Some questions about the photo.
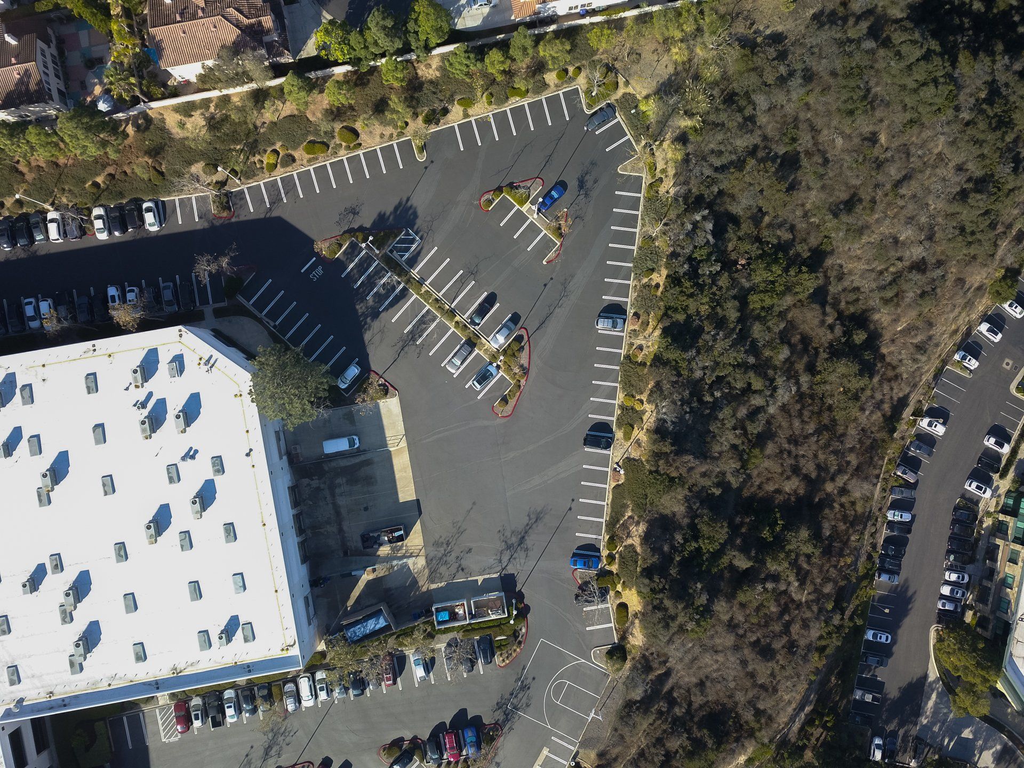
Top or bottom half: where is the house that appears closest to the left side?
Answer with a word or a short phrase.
top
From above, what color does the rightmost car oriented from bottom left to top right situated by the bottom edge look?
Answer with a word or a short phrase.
black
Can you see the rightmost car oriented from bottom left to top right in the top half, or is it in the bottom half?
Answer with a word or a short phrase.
top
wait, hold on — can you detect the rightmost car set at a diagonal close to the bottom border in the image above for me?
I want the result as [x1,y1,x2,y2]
[389,745,416,768]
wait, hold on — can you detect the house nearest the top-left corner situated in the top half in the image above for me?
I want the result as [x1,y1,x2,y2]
[0,11,66,124]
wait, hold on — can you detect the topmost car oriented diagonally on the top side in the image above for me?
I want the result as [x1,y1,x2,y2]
[586,104,616,129]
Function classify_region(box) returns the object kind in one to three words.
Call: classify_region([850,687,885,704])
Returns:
vehicle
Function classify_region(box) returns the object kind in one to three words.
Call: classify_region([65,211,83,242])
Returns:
car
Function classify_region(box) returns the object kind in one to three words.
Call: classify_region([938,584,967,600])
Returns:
car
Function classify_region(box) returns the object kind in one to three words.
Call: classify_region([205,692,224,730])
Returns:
vehicle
